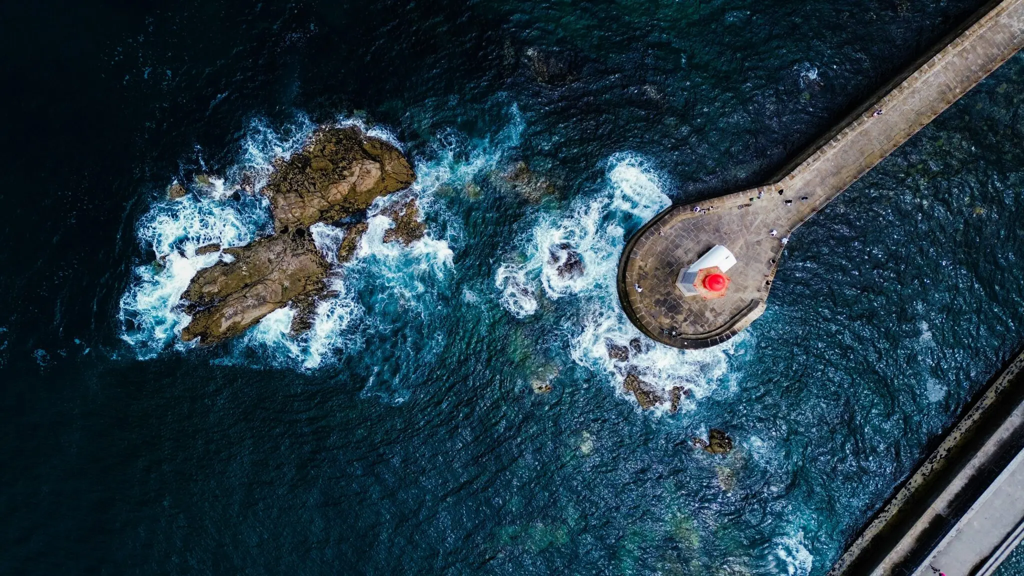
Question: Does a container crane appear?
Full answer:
No, I can see no container crane in this picture.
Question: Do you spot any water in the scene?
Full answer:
Yes, water shows up in the scene.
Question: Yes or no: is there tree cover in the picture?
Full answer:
No, no tree cover is visible.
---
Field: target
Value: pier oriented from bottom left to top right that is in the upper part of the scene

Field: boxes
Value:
[617,0,1024,352]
